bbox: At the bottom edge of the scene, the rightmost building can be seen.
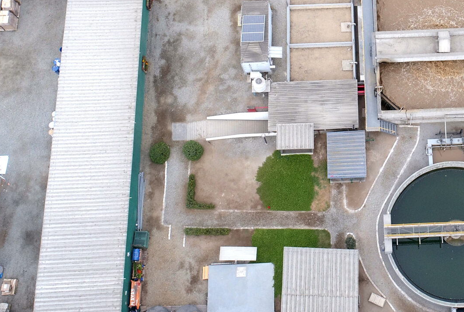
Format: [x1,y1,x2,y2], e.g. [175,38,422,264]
[281,247,359,312]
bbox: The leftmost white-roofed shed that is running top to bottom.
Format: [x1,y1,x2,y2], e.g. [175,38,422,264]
[34,0,148,312]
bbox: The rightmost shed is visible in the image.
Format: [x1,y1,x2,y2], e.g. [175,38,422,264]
[327,130,366,183]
